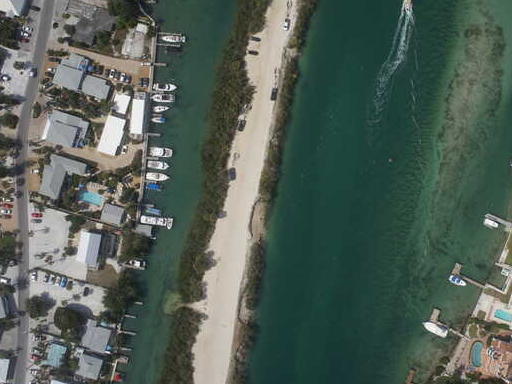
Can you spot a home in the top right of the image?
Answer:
No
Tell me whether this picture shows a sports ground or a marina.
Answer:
marina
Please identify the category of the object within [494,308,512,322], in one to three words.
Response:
swimming pool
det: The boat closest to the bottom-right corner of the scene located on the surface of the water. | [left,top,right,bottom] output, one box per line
[424,321,450,339]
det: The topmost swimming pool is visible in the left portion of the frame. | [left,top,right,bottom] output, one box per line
[78,189,104,207]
